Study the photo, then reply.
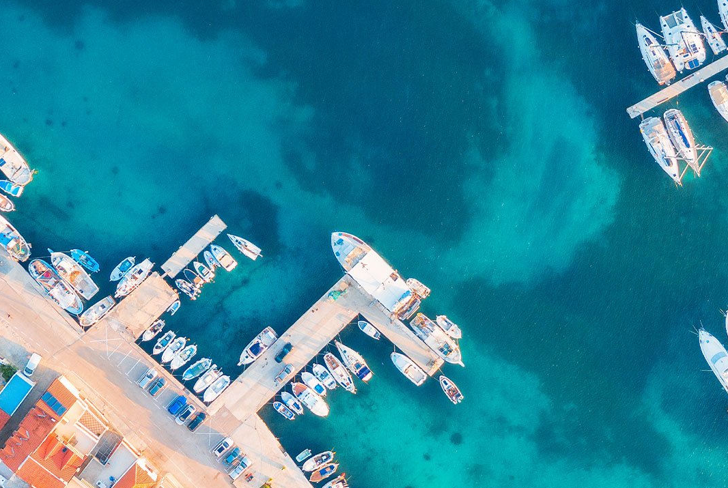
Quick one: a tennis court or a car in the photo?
car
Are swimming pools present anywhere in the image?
No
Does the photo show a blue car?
Yes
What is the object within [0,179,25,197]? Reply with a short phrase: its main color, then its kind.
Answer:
blue boat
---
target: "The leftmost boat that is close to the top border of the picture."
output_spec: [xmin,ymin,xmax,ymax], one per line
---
[624,9,681,93]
